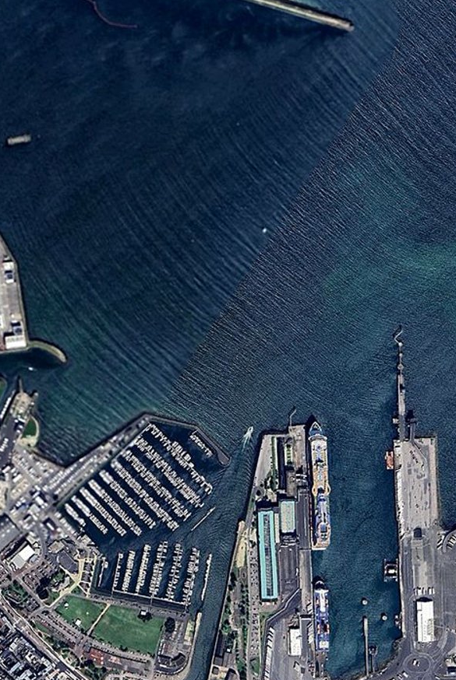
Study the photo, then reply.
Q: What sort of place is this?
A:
port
